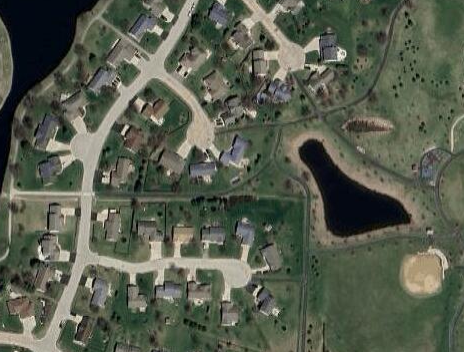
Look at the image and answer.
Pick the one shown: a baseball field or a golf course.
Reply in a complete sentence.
This aerial view contains a baseball field.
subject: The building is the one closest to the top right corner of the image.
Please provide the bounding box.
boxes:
[319,33,339,61]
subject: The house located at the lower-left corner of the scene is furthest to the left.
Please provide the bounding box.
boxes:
[7,295,35,321]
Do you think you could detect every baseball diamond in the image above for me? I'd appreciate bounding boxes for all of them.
[401,248,448,295]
